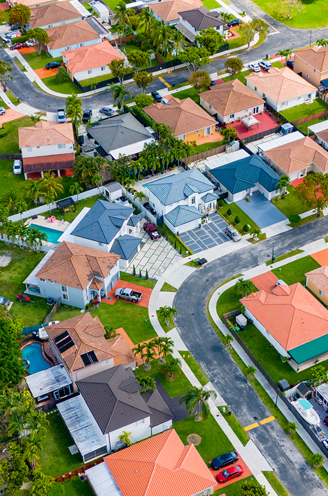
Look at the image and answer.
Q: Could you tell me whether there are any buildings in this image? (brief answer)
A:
Yes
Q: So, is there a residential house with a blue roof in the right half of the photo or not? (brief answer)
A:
Yes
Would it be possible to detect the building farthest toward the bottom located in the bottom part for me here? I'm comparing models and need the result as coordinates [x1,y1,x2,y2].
[84,426,219,496]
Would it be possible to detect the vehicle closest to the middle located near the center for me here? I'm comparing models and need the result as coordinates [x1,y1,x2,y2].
[143,220,162,239]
